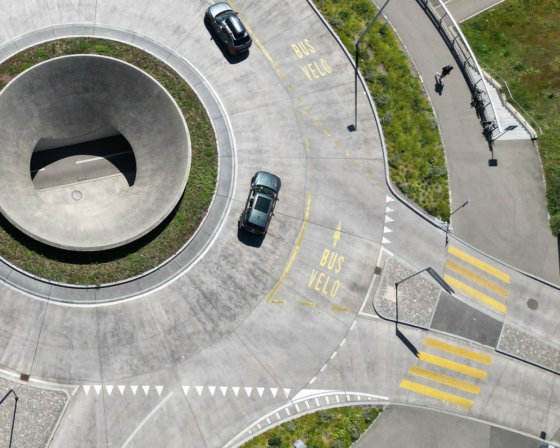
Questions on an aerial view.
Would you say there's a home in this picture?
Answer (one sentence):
No, no home is visible in the scene.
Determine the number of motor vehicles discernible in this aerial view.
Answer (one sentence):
In total, 2 motor vehicles can be seen.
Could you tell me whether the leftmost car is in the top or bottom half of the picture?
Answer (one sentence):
It is in the top half that the leftmost car appears.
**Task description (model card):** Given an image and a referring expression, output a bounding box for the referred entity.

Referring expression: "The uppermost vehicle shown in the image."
[208,3,251,54]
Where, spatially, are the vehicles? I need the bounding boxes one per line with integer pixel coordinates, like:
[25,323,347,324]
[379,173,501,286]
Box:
[208,3,251,54]
[240,173,279,234]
